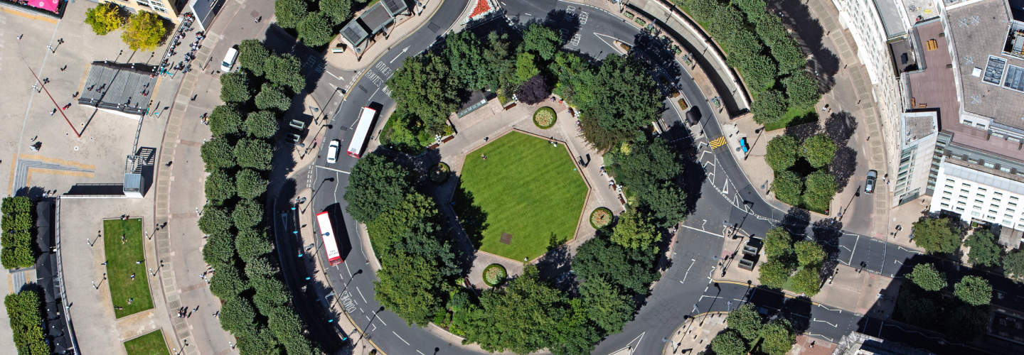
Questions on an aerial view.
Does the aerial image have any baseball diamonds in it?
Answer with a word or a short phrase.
No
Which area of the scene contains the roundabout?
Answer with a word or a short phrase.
center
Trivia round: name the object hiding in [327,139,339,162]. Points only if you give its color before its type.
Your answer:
white vehicle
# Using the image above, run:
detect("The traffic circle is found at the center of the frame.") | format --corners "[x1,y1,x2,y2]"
[316,0,718,355]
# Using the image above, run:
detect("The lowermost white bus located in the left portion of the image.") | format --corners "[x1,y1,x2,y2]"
[316,212,342,264]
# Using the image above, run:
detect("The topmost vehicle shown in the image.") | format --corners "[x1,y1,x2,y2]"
[222,44,239,72]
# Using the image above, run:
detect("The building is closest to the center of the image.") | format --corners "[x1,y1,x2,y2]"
[450,87,489,123]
